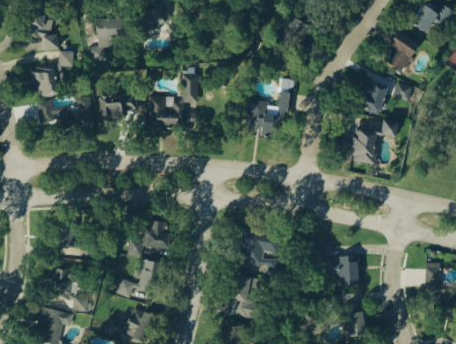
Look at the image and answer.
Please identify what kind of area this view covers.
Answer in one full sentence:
What you see here is a residential area.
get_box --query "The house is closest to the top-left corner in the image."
[32,16,58,50]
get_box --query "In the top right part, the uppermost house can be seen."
[413,4,454,34]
